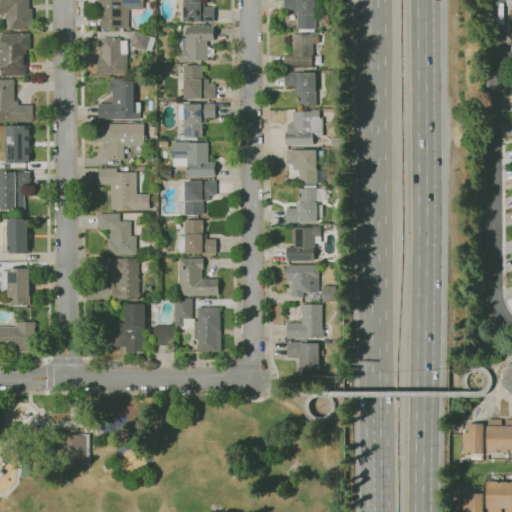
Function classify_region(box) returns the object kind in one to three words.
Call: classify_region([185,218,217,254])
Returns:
house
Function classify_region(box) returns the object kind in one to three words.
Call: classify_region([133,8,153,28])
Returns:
swimming pool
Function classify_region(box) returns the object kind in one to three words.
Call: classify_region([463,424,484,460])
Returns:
building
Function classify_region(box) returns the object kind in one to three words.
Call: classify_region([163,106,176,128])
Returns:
swimming pool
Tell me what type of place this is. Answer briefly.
residential area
